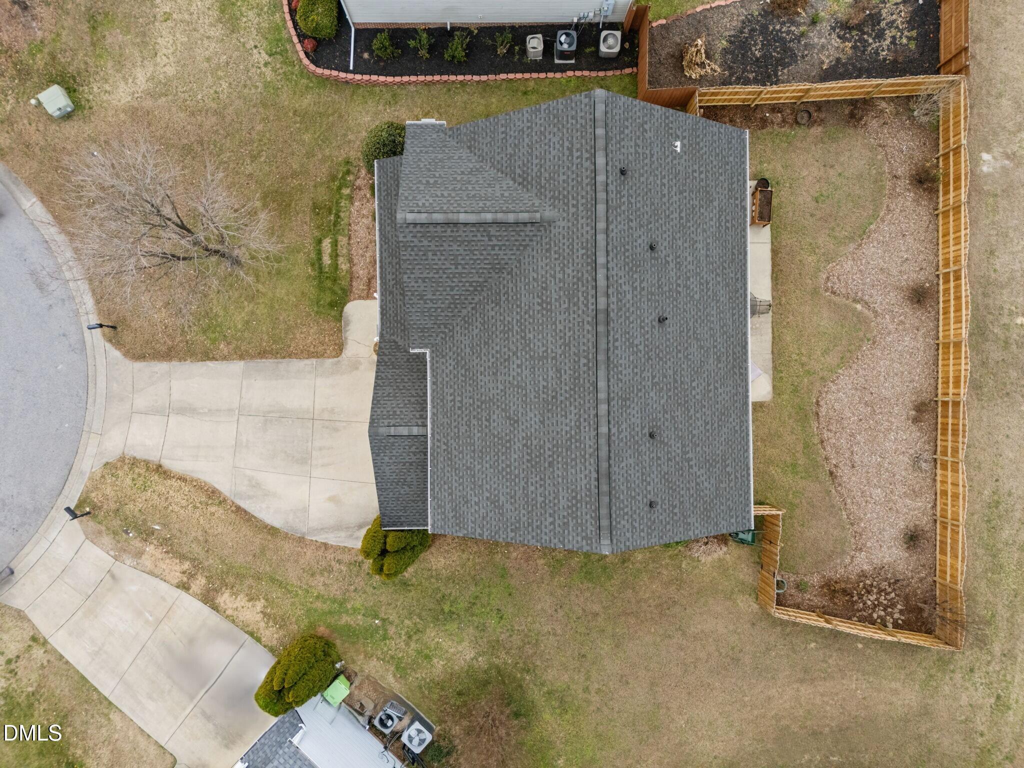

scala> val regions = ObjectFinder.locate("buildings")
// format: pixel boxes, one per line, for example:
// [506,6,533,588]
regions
[368,90,754,555]
[227,692,408,768]
[339,0,634,68]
